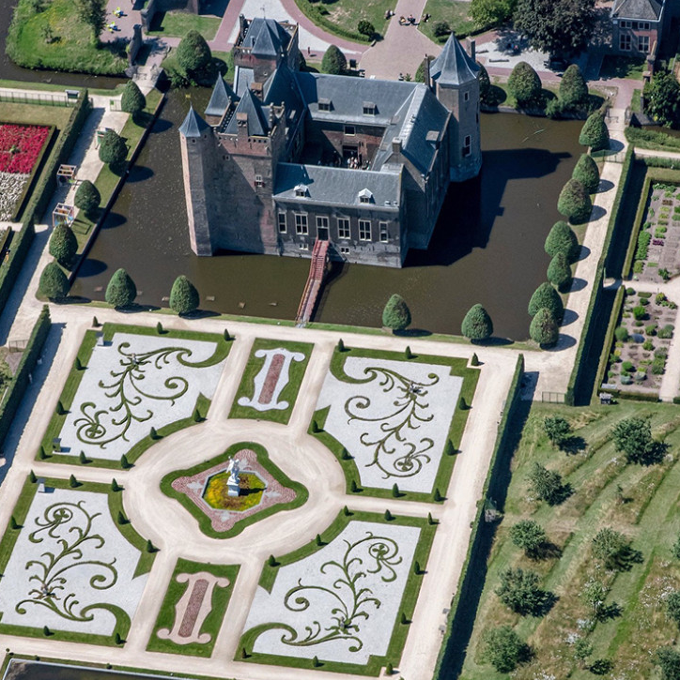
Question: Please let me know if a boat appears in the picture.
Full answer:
No, no boat is visible in the scene.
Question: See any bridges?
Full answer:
Yes, a bridge appears in the view.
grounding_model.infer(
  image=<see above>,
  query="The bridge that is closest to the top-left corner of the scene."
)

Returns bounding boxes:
[130,61,165,94]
